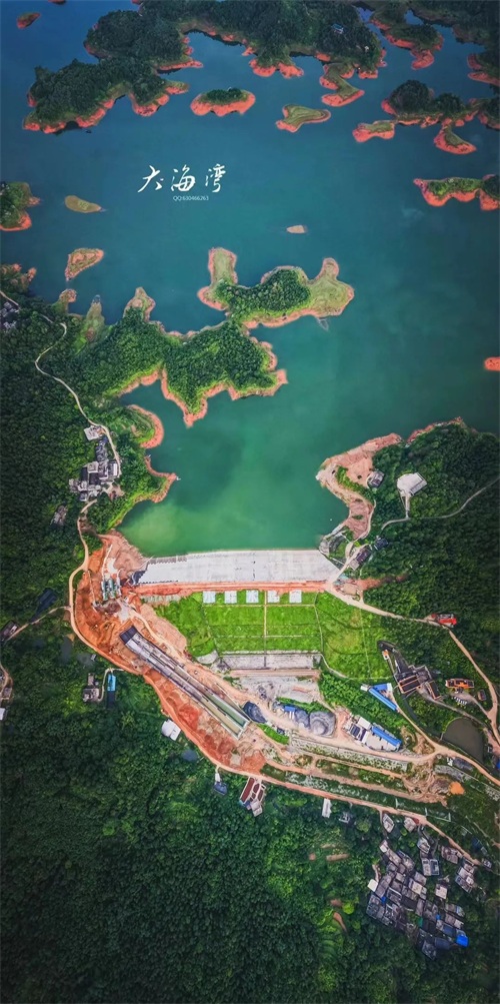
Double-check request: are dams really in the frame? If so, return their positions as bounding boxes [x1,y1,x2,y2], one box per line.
[137,549,340,654]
